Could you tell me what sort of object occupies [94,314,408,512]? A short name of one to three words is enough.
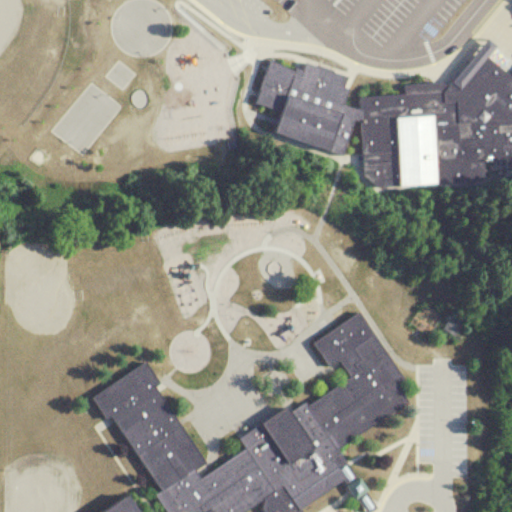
building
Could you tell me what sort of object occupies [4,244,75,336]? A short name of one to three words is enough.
baseball field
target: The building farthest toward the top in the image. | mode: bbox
[256,41,512,188]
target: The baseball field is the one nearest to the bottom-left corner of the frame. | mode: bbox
[4,454,82,512]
